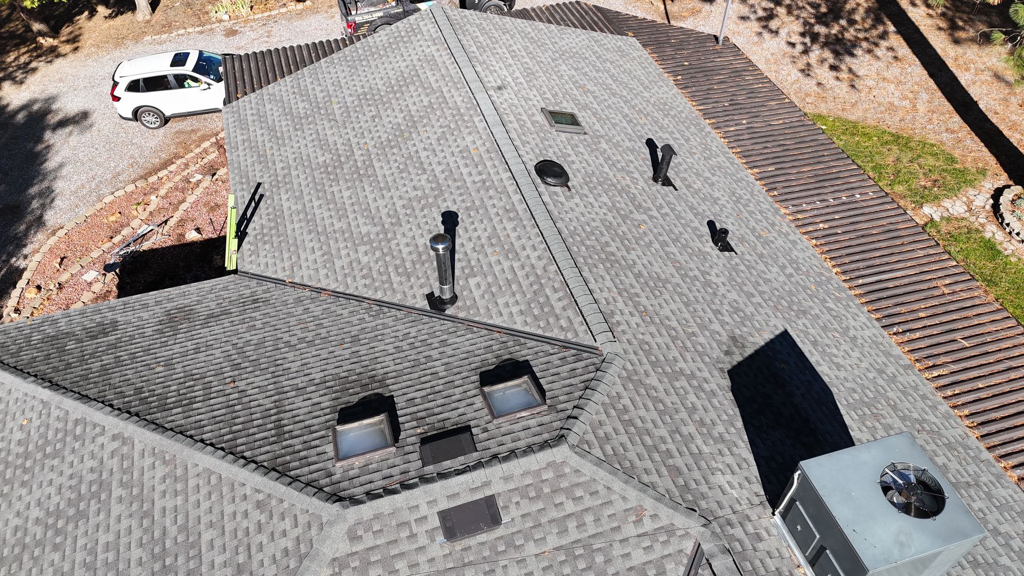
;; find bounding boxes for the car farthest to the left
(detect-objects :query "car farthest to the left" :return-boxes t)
[109,46,226,132]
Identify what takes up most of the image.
buildings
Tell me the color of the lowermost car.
white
